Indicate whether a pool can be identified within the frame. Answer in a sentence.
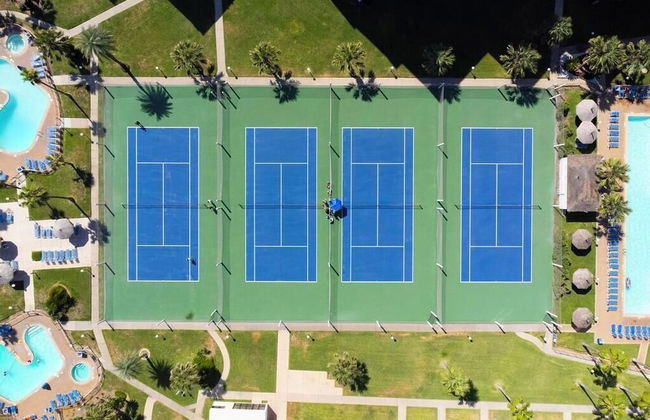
Yes, the photo shows a pool.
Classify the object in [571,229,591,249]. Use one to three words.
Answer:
umbrella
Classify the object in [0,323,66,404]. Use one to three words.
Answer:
swimming pool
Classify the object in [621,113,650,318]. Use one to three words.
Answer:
swimming pool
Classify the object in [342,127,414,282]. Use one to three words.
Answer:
tennis court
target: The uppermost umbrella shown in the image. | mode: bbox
[576,101,596,121]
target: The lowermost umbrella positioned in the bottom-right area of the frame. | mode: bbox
[571,310,592,331]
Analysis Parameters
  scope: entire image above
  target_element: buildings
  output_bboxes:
[206,402,267,420]
[560,153,604,213]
